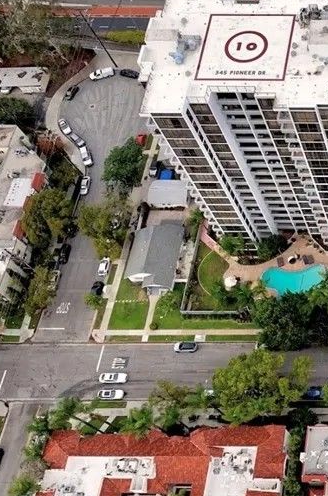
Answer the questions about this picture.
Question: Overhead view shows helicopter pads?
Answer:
Yes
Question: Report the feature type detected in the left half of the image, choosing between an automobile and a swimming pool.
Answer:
automobile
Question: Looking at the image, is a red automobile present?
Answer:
No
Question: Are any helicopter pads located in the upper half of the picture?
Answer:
Yes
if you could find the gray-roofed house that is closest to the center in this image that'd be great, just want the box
[125,225,187,293]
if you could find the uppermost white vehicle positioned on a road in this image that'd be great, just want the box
[91,68,116,80]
